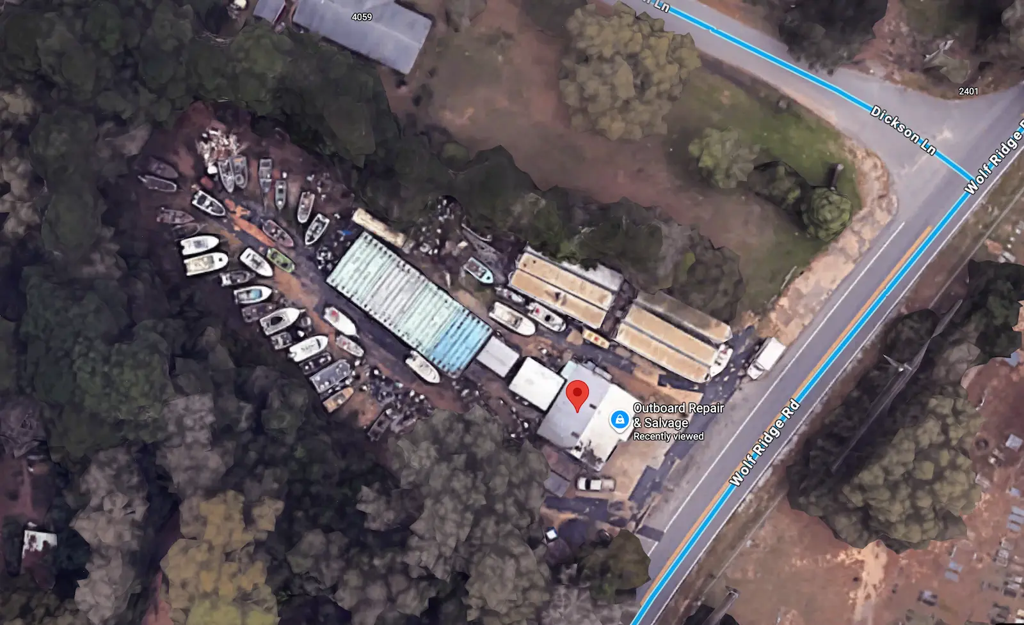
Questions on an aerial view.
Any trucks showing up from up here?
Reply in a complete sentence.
Yes, the picture does show a truck.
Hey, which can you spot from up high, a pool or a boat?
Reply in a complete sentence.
There is a boat in the scene.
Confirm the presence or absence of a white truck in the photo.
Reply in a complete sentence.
Yes, this view includes a white truck.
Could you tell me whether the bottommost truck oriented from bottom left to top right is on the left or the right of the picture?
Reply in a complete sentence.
It is on the right.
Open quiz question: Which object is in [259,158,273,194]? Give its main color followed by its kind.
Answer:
gray boat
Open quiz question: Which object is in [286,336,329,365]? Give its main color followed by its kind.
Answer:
white boat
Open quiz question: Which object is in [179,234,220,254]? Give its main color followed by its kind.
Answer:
white boat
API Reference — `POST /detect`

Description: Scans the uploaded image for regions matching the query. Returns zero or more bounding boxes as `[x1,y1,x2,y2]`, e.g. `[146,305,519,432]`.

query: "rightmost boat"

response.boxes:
[710,341,734,378]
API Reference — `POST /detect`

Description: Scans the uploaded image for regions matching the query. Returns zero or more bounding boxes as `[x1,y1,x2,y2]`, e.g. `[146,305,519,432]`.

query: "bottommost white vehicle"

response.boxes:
[577,477,615,492]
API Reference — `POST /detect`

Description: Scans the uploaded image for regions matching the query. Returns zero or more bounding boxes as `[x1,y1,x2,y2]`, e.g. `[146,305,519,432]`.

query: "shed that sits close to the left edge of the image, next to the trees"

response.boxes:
[23,530,56,560]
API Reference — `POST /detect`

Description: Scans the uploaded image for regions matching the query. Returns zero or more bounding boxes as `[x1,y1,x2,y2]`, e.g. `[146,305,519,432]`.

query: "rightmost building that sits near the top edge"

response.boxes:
[294,0,433,74]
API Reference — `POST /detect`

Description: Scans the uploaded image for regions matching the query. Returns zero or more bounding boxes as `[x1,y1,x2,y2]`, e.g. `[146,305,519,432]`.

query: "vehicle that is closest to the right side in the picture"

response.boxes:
[748,337,786,380]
